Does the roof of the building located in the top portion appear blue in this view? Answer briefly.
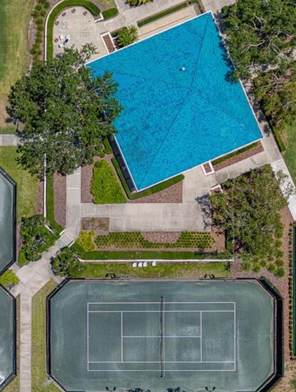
Yes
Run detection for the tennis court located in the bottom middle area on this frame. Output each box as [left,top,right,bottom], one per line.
[50,279,275,392]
